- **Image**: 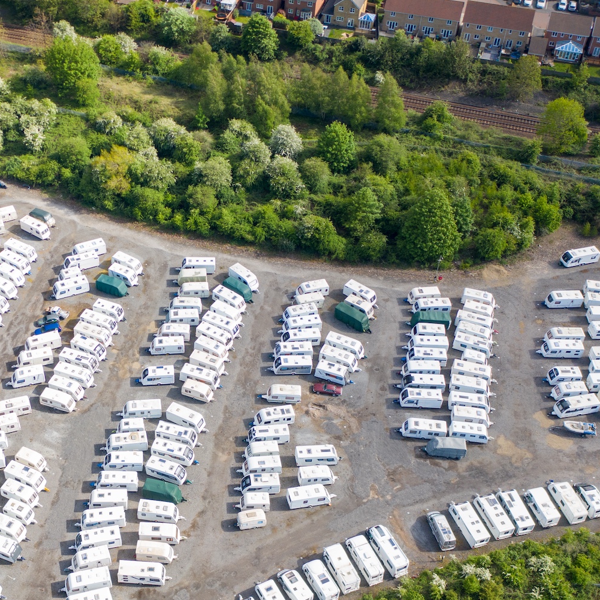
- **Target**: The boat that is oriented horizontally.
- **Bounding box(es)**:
[561,418,600,434]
